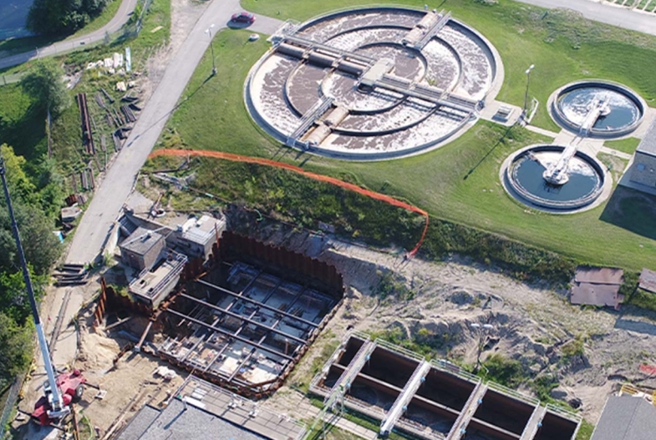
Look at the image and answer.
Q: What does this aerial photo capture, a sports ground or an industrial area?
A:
industrial area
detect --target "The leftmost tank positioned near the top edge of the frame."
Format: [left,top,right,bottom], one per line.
[243,1,502,163]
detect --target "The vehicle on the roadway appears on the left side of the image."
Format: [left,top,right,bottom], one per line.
[229,11,254,24]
